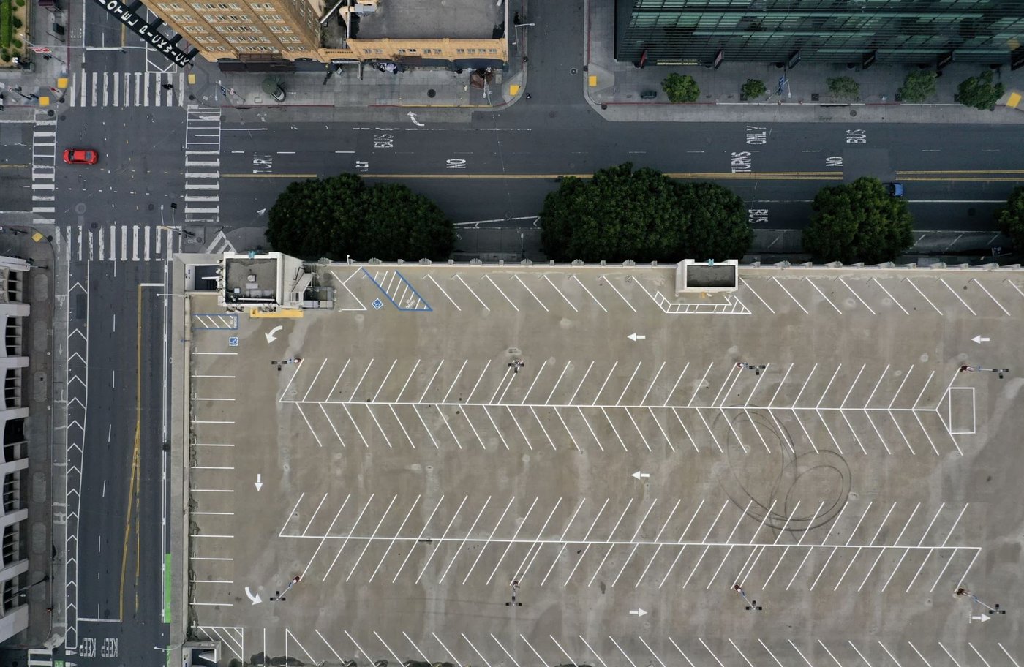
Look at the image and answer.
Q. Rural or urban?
urban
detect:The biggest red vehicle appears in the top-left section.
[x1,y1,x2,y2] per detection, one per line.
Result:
[61,146,94,163]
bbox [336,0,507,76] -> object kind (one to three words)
building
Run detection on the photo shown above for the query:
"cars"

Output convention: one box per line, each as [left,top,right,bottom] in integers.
[880,181,906,197]
[61,146,94,163]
